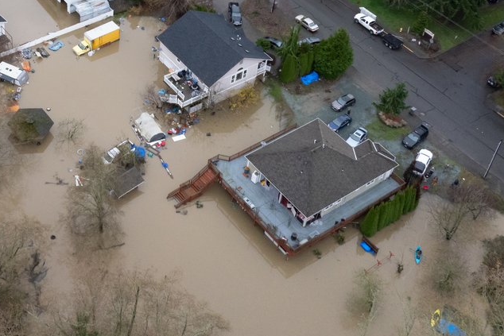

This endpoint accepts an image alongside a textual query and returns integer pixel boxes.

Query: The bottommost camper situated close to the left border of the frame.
[0,60,28,87]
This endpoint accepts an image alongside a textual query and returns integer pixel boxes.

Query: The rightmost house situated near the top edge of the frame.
[155,11,273,107]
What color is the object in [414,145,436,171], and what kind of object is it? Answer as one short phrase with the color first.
white car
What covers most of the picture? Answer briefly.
water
